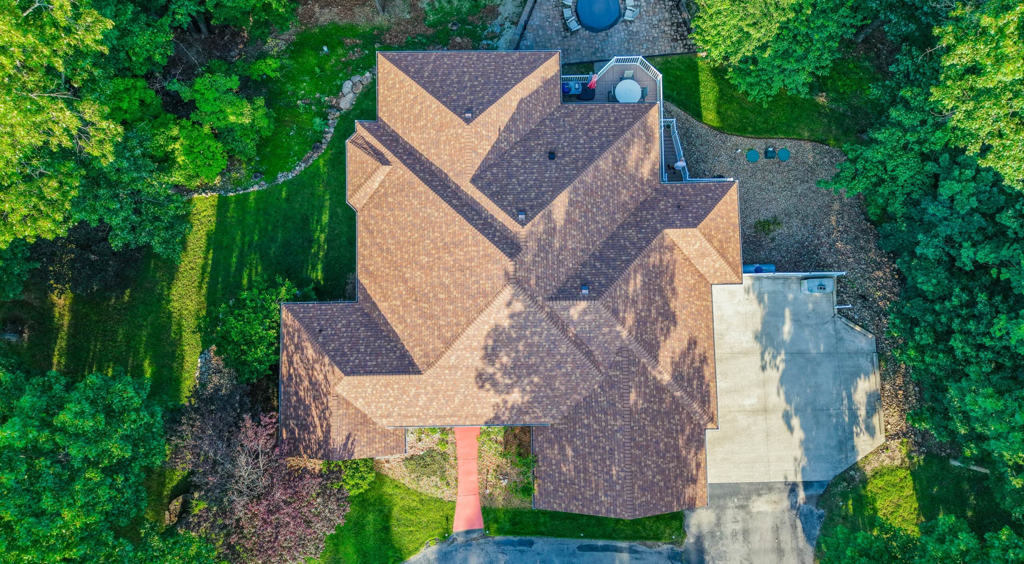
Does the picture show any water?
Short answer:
No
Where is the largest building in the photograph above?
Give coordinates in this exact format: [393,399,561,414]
[279,51,742,520]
